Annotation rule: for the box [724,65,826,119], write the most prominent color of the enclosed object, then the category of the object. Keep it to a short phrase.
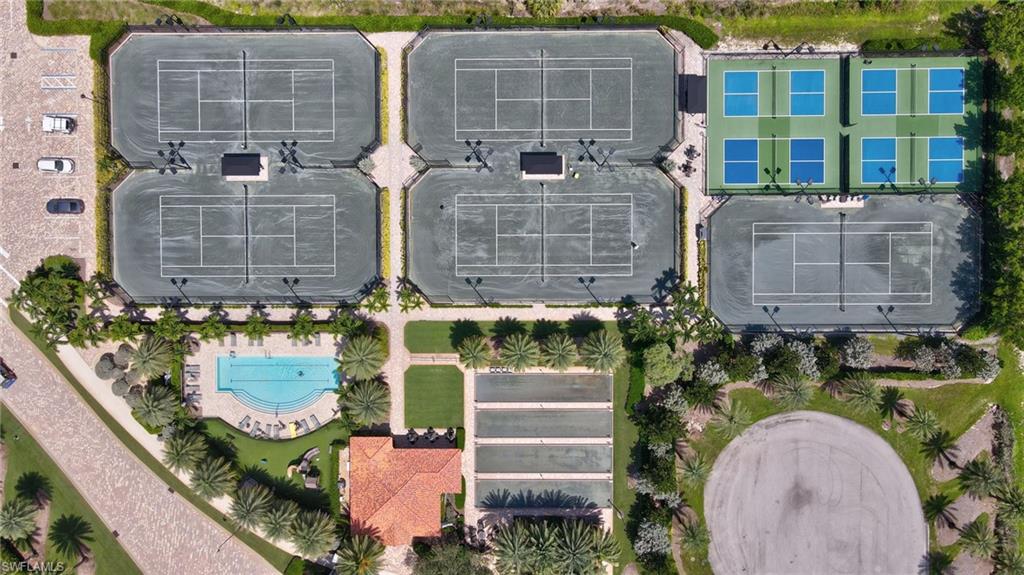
blue sports court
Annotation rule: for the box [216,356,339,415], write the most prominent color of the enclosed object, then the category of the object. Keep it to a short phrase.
blue swimming pool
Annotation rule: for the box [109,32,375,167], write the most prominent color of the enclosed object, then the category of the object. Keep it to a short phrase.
gray tennis court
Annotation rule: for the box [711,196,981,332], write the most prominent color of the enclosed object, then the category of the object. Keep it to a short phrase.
gray tennis court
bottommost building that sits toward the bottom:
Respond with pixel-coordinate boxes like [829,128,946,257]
[350,436,461,548]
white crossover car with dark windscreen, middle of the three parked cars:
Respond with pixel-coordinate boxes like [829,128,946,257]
[37,156,76,173]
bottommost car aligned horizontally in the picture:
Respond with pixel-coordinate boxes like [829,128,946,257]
[47,198,85,214]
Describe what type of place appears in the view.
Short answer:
sports ground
